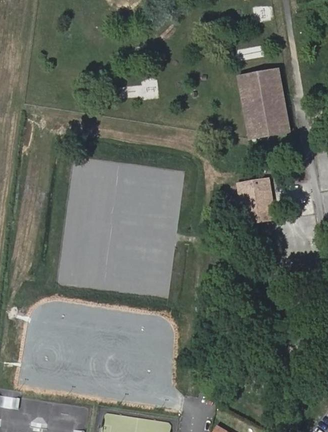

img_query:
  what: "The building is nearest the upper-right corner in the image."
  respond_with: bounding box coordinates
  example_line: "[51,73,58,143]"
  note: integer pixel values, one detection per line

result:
[236,68,292,139]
